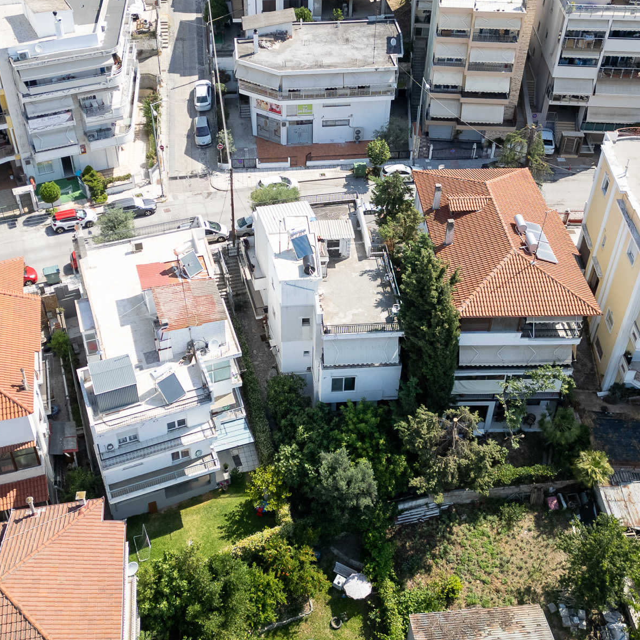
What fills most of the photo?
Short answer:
buildings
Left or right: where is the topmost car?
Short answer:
left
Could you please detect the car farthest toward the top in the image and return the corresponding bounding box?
[192,86,212,111]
